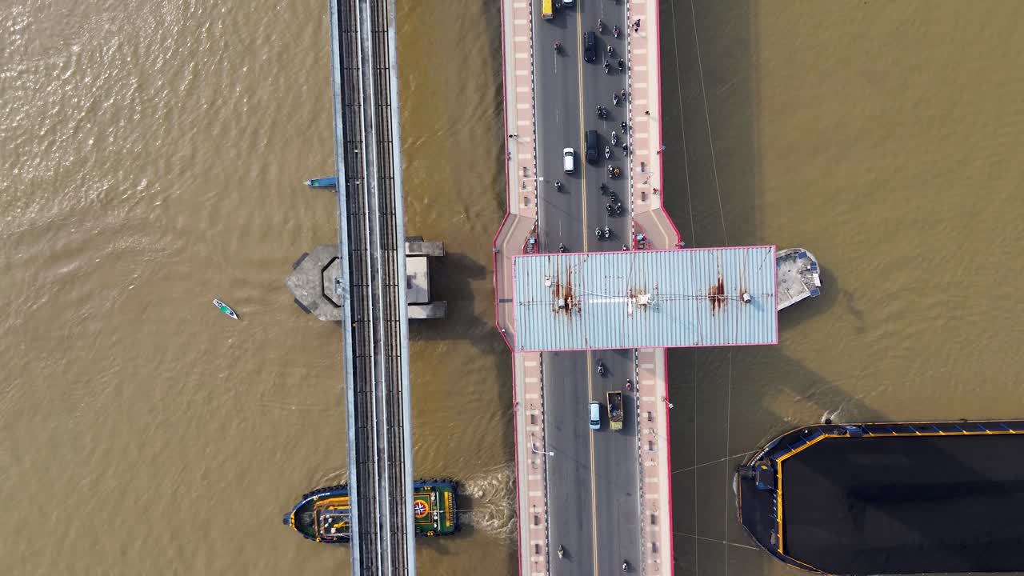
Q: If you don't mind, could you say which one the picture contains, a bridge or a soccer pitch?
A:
bridge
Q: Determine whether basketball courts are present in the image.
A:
No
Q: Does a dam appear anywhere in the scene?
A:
No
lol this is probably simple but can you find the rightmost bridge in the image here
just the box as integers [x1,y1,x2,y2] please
[493,0,681,576]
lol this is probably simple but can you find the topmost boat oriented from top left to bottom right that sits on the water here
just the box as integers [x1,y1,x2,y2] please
[213,299,239,318]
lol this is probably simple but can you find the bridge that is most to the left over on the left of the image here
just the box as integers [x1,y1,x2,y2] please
[327,0,417,576]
